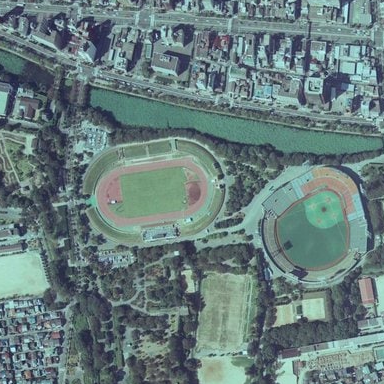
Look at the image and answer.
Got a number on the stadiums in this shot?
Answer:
two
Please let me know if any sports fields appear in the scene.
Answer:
Yes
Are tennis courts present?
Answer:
Yes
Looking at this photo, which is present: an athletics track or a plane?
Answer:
athletics track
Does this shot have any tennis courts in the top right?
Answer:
No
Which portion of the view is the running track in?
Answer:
center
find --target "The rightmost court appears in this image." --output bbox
[302,291,327,322]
